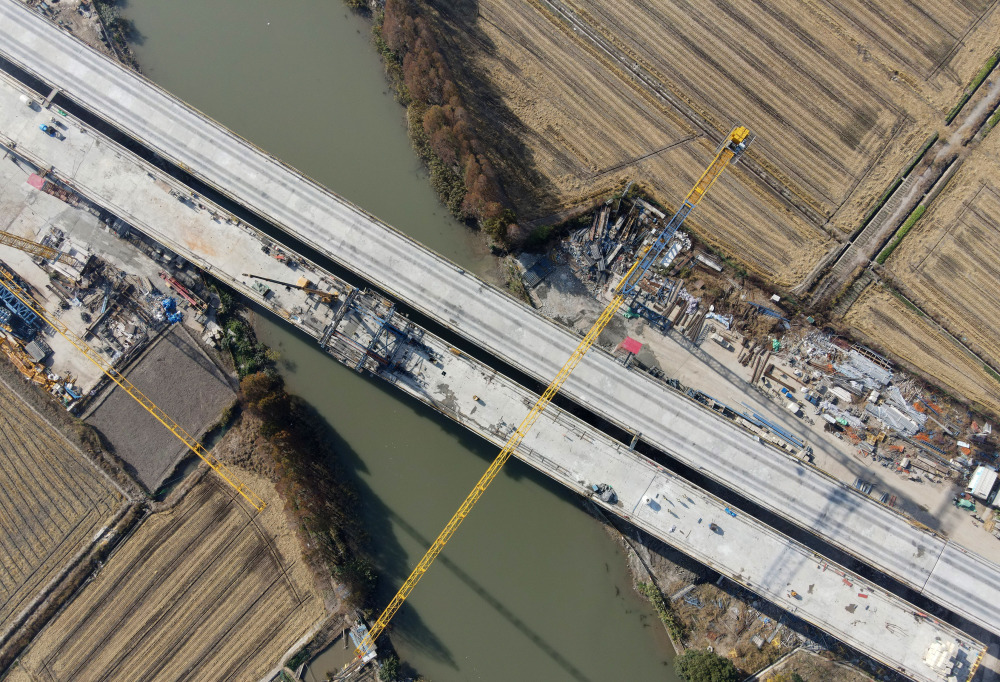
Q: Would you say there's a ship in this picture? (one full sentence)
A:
No, I find no ship anywhere in the image.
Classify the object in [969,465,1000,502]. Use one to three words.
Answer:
shed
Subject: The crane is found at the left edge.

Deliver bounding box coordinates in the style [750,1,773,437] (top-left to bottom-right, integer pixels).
[0,230,269,514]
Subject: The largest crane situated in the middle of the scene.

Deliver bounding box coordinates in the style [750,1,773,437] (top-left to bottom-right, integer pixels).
[356,128,751,651]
